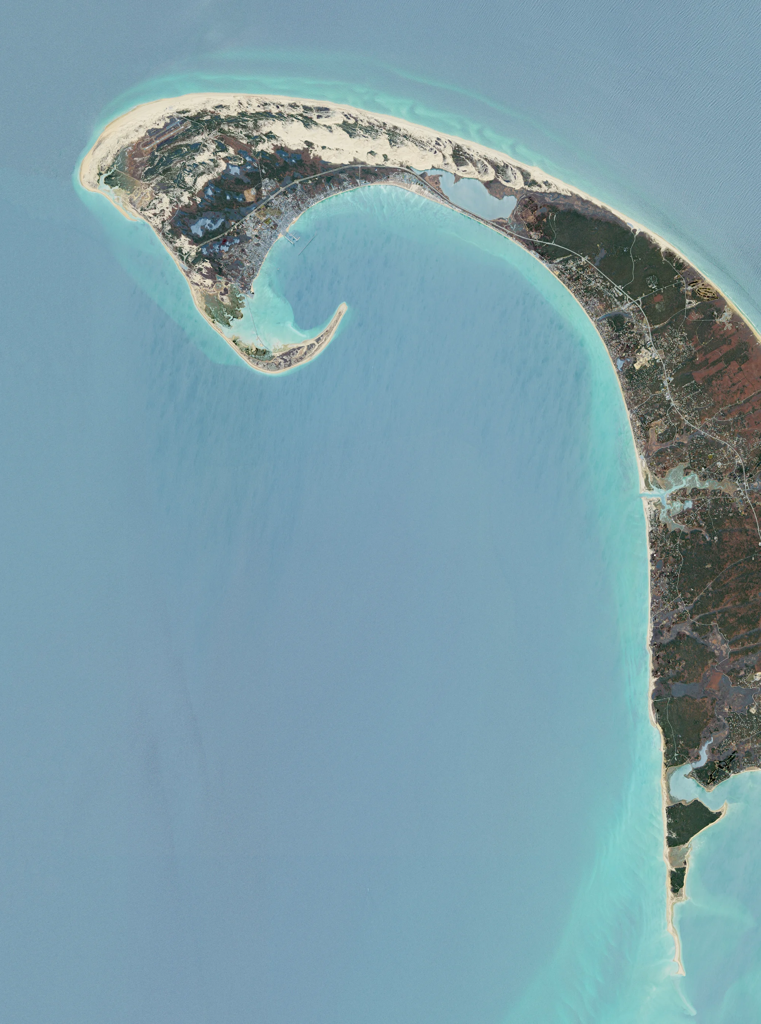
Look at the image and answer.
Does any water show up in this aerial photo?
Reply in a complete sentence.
Yes, some water is visible.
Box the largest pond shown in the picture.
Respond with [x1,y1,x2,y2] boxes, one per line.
[411,167,517,220]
